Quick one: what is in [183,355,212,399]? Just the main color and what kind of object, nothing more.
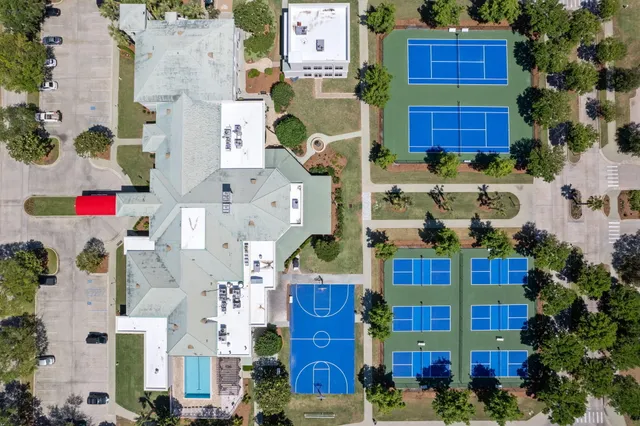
blue swimming pool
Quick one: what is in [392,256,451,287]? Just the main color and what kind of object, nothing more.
blue sports court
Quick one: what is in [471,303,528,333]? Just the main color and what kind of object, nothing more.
blue sports court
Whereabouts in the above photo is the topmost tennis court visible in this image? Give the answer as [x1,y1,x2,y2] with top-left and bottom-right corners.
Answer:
[408,34,508,89]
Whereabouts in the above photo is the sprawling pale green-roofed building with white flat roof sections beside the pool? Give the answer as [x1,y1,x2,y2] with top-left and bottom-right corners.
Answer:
[116,4,331,391]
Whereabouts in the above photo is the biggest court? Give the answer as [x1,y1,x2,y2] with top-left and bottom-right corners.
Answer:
[290,284,355,395]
